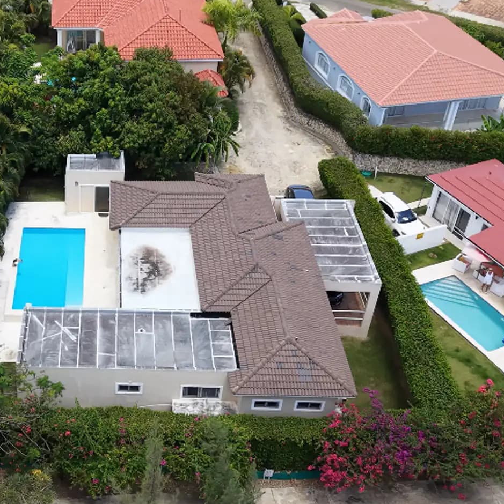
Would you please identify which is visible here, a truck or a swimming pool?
swimming pool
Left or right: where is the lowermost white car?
right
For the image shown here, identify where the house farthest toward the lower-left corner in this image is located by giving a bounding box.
[18,152,381,425]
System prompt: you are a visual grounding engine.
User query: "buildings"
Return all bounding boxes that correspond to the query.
[426,159,504,275]
[51,0,224,73]
[302,7,504,130]
[18,152,381,425]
